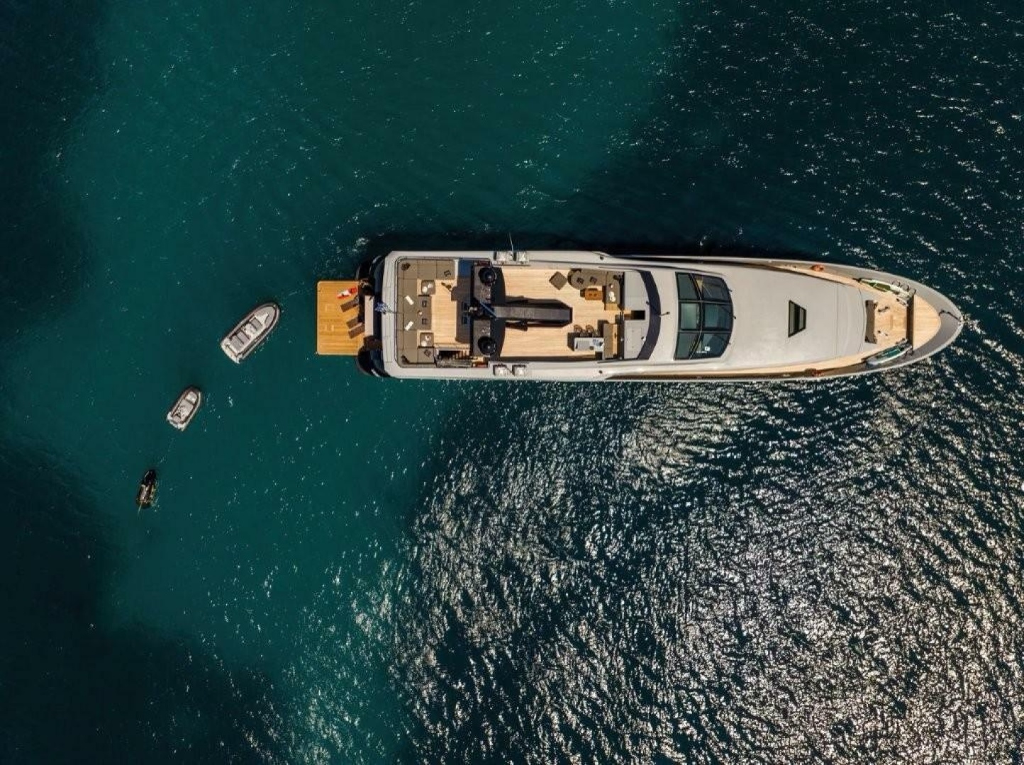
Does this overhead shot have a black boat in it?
Yes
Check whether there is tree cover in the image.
No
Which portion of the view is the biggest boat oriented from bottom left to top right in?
left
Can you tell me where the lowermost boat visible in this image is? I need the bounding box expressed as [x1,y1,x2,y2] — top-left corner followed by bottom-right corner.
[138,470,157,515]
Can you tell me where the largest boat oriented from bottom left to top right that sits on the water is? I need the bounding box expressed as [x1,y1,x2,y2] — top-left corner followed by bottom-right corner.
[222,302,281,362]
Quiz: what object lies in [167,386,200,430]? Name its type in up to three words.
boat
